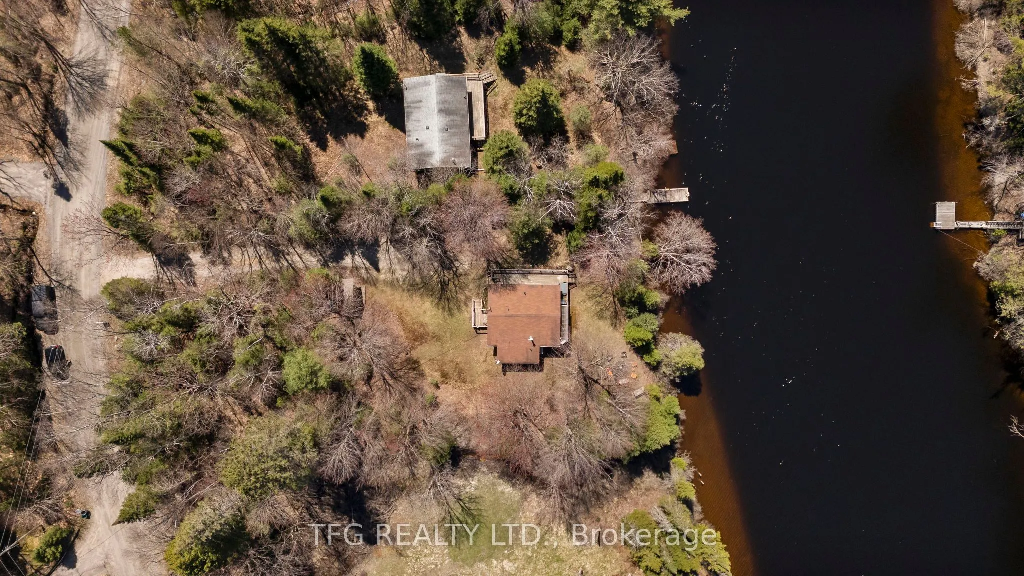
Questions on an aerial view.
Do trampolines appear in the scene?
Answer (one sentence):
No, the scene contains no trampoline.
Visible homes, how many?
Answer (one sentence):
Looking from above, you can make out 2 homes.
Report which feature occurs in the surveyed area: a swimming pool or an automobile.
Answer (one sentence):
There is an automobile in the scene.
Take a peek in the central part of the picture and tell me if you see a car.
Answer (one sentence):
No, I see no car in the central part of the picture.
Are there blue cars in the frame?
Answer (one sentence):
No, I can't see a single blue car in this photo.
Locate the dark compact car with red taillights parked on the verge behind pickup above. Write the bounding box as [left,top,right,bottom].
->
[45,342,72,384]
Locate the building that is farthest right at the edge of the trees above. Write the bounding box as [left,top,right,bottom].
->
[487,284,567,365]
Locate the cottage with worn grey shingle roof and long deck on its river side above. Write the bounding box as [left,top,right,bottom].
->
[401,74,472,172]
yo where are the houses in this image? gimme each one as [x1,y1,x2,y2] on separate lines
[487,284,567,365]
[401,74,472,172]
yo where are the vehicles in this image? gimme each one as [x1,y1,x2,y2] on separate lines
[31,285,59,337]
[45,342,72,384]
